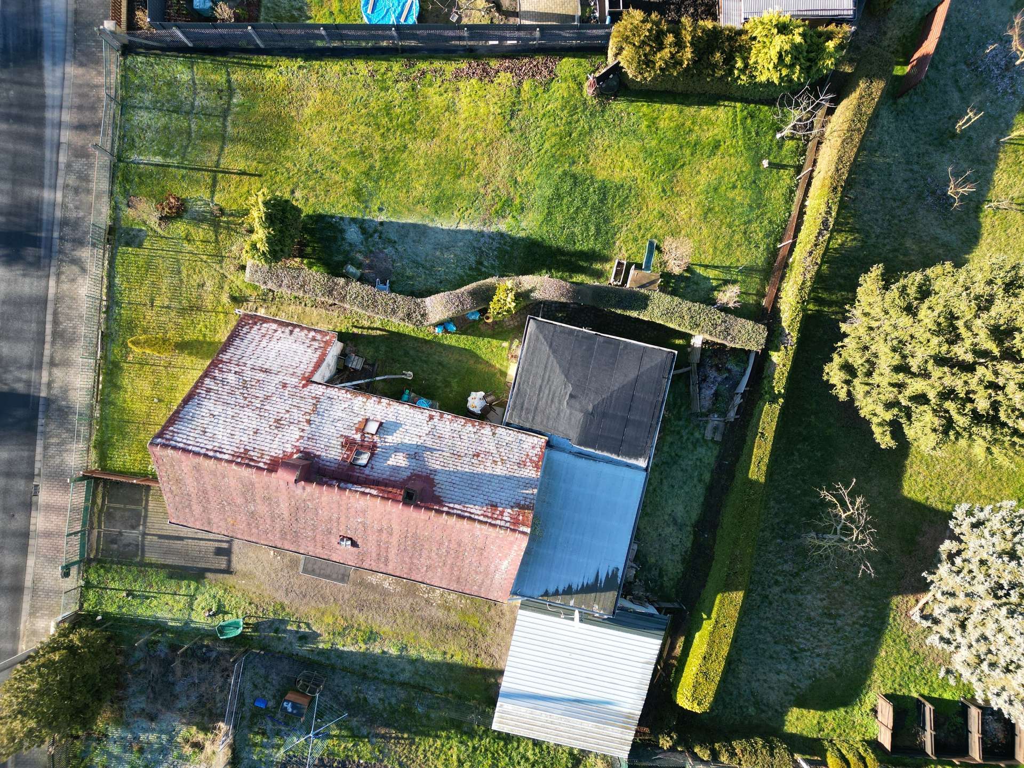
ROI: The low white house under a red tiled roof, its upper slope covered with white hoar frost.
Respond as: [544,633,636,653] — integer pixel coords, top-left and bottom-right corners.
[147,309,547,604]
